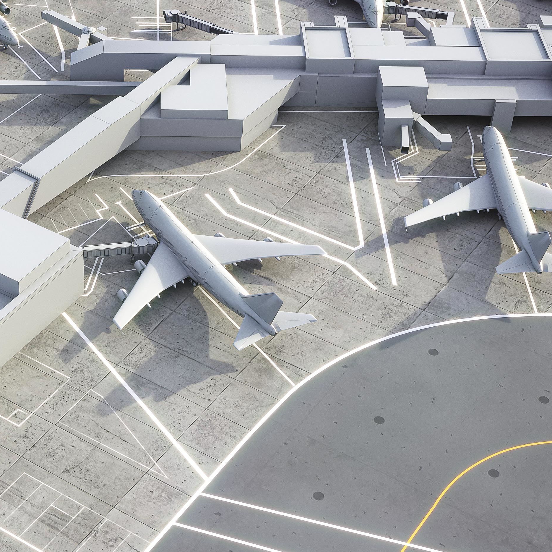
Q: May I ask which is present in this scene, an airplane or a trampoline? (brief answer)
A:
airplane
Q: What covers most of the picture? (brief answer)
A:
paved ground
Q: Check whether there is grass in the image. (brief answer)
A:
No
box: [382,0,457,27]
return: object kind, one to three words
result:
jet bridge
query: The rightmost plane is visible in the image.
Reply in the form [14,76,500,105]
[405,124,552,274]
